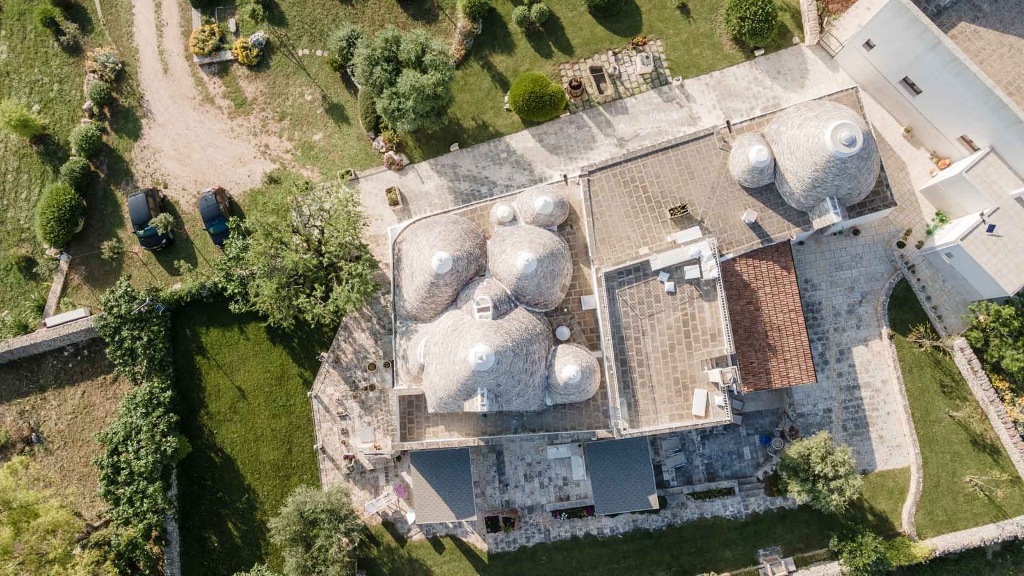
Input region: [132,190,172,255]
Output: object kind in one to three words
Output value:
car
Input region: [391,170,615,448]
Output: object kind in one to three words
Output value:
house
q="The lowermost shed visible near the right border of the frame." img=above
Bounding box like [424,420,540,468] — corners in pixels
[922,202,1024,305]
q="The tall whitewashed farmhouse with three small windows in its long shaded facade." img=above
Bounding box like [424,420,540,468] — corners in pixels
[829,0,1024,188]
